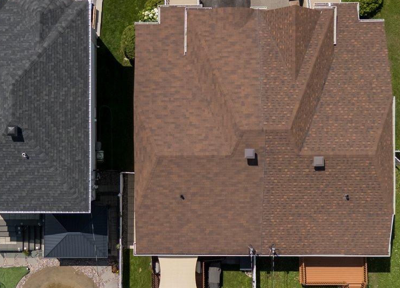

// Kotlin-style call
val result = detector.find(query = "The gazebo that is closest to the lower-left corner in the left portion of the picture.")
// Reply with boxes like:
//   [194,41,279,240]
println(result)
[42,202,108,259]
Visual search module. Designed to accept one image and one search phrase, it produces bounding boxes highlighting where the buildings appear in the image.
[0,0,106,212]
[131,3,396,260]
